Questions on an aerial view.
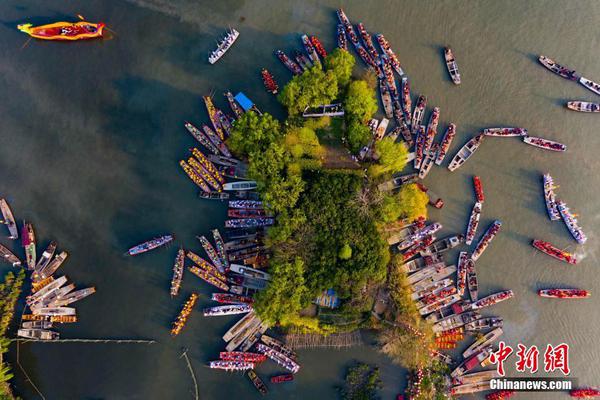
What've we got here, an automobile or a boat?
boat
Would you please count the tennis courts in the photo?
zero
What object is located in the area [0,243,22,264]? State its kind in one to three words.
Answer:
boat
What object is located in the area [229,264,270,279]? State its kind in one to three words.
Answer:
boat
